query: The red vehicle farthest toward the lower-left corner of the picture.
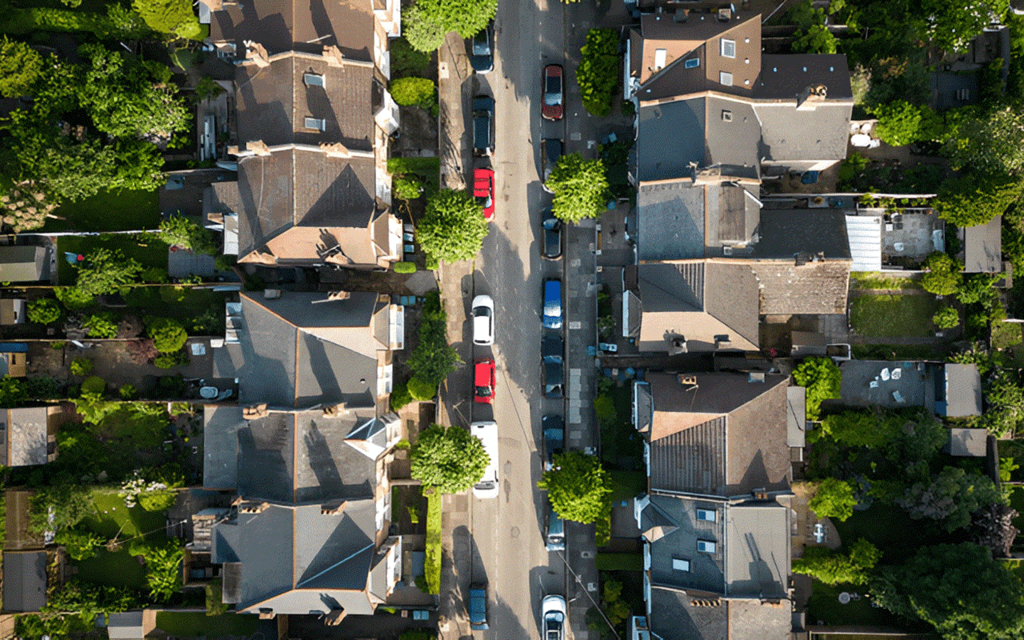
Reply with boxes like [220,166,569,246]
[471,359,498,403]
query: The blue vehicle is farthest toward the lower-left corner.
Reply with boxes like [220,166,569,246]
[466,581,492,629]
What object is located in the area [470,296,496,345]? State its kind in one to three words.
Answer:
car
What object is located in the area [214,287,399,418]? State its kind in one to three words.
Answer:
house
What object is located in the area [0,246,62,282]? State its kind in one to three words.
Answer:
shed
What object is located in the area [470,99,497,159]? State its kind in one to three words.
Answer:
car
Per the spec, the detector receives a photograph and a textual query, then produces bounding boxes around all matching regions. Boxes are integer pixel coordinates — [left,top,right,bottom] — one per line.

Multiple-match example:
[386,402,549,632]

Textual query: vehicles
[468,19,495,76]
[470,420,499,496]
[470,99,497,159]
[540,279,566,329]
[466,581,492,629]
[539,66,567,122]
[539,335,566,398]
[470,296,496,345]
[538,139,563,193]
[539,209,565,260]
[540,592,567,640]
[542,499,568,549]
[471,359,498,403]
[472,170,497,221]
